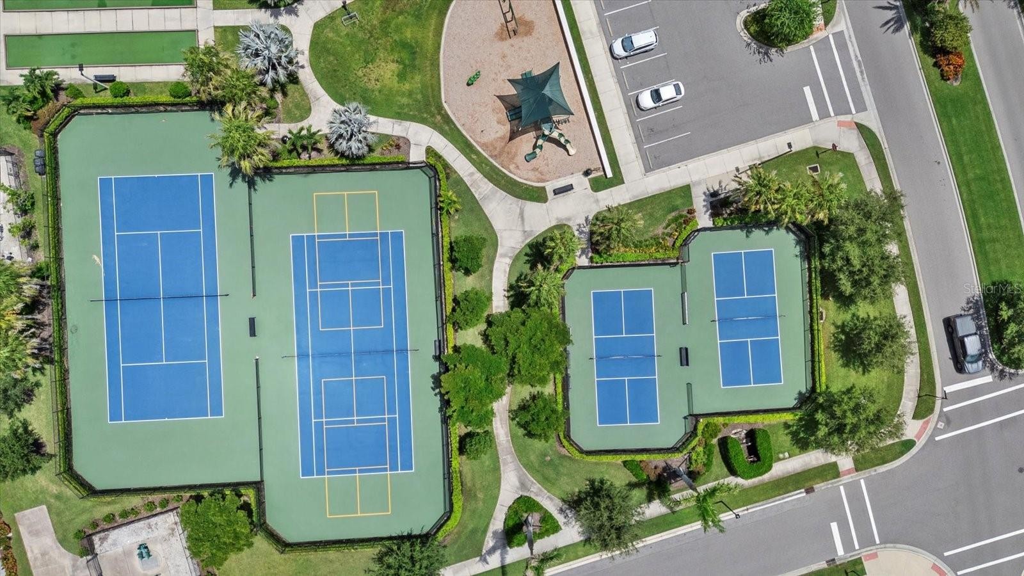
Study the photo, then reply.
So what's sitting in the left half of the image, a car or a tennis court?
tennis court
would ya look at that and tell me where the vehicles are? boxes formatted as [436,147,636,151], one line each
[635,80,687,112]
[610,29,660,61]
[947,316,985,376]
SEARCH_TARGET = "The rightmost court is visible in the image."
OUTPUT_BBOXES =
[681,225,813,414]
